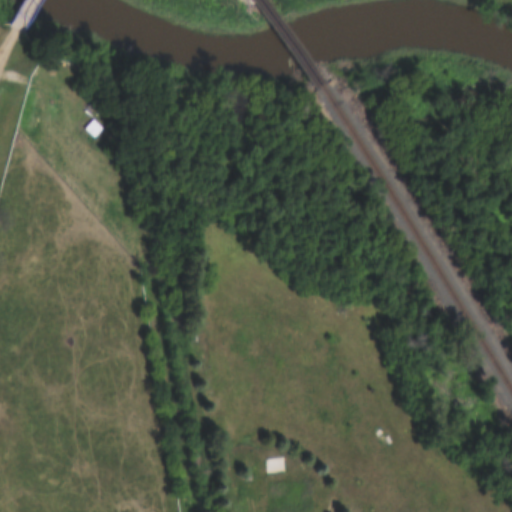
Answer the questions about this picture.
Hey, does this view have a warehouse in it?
No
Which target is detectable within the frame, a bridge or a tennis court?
bridge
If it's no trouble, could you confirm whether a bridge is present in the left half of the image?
Yes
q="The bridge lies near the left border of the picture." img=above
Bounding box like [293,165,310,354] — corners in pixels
[10,0,46,34]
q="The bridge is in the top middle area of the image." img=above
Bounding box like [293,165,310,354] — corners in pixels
[256,0,336,98]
